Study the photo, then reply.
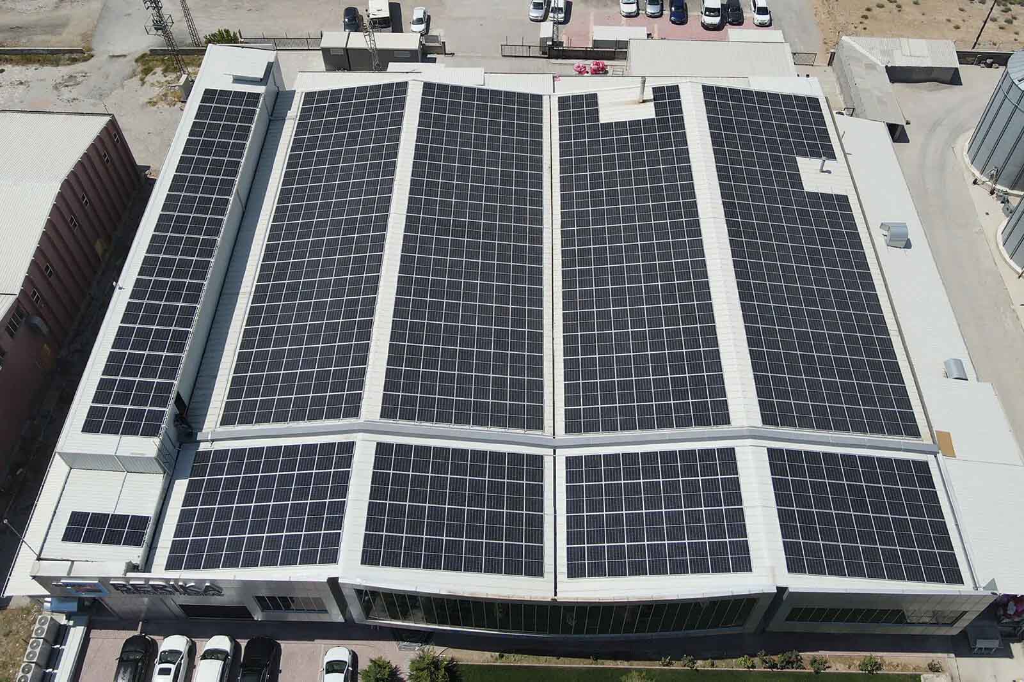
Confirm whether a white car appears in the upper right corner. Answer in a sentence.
Yes, looking in the upper right corner, one can make out a white car.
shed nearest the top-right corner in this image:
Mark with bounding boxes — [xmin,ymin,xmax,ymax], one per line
[833,34,959,141]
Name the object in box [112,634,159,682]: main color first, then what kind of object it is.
black car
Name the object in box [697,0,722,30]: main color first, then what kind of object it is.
white vehicle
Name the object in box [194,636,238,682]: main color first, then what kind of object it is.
white car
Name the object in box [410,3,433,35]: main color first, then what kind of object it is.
white car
